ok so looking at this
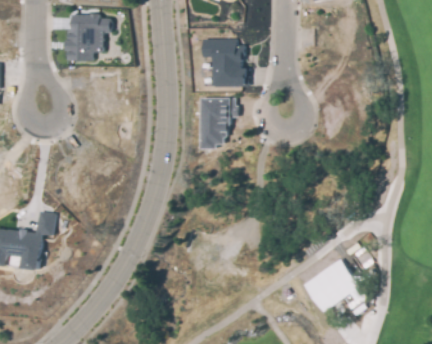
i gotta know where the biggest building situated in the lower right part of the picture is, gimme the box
[304,260,368,313]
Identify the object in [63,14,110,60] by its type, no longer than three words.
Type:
house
